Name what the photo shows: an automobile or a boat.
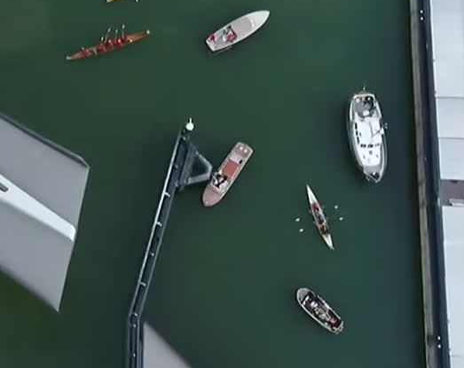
boat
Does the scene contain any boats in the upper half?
Yes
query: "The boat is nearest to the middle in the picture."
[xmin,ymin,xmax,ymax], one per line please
[200,142,253,207]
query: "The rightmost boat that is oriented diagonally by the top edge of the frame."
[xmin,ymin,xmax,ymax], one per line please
[206,10,270,53]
